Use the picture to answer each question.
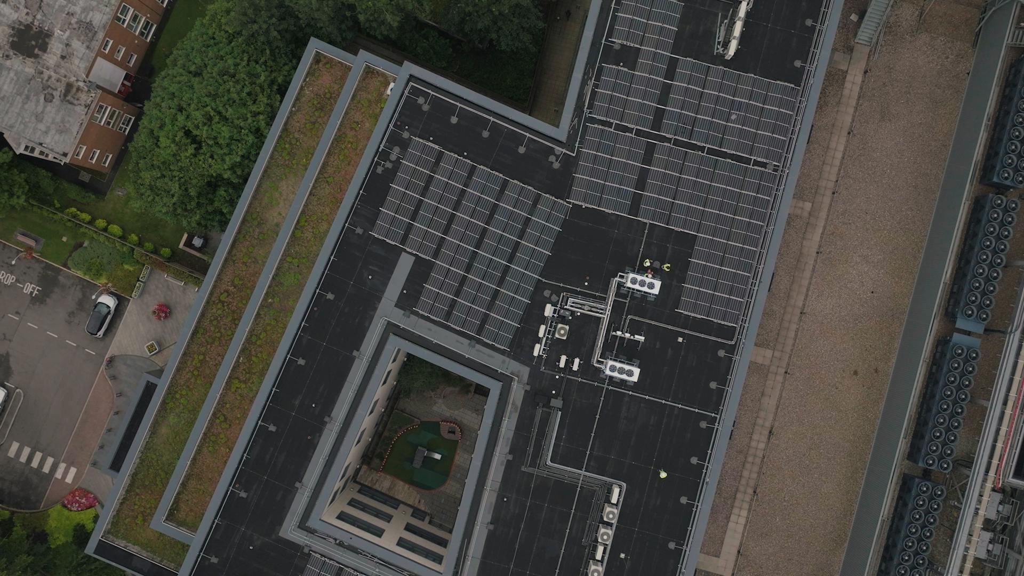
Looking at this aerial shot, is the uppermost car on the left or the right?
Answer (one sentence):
It is on the left.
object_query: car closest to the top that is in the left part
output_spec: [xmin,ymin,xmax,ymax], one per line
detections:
[83,293,121,340]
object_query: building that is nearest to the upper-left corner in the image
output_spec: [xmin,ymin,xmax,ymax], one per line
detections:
[0,0,167,172]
